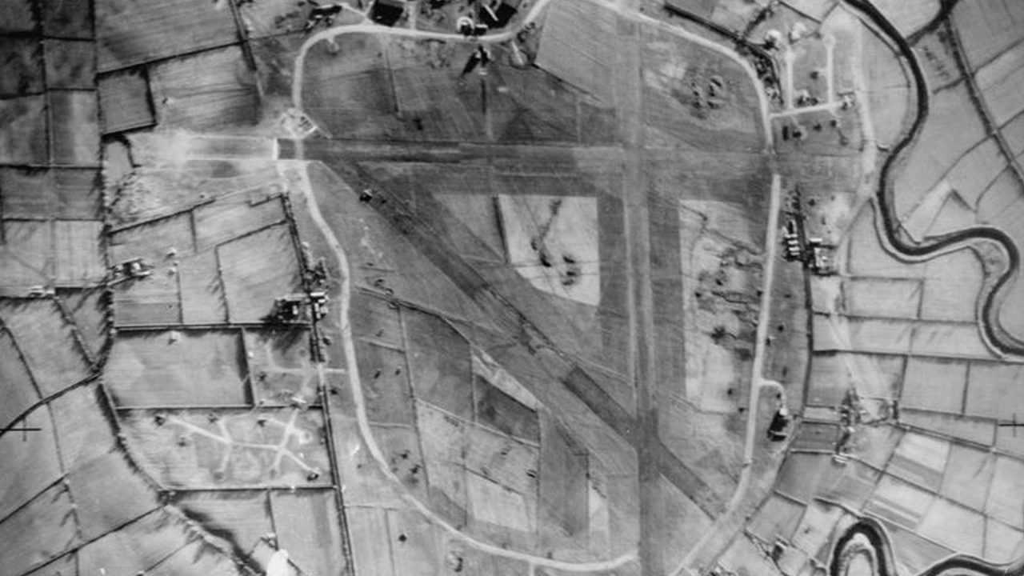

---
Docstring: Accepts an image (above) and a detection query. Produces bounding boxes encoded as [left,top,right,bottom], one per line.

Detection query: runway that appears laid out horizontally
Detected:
[279,139,771,172]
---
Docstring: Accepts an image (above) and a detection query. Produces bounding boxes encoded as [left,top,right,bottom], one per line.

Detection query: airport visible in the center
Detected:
[169,0,852,576]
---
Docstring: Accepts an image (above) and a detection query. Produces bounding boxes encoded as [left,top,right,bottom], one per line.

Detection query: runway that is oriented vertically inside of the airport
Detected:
[615,15,663,576]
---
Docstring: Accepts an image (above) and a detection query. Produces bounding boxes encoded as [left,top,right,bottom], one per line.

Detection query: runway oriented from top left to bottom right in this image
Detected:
[322,145,725,520]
